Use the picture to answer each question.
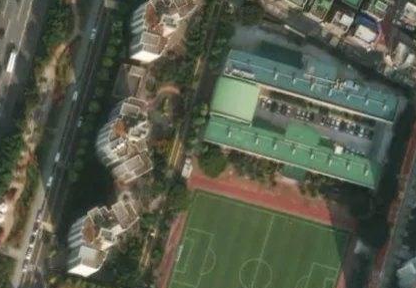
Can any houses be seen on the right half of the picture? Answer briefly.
Yes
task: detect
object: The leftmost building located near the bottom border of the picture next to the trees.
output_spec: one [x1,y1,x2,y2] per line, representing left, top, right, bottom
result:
[67,200,140,275]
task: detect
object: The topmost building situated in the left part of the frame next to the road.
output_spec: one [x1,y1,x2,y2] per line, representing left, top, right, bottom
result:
[128,0,198,64]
